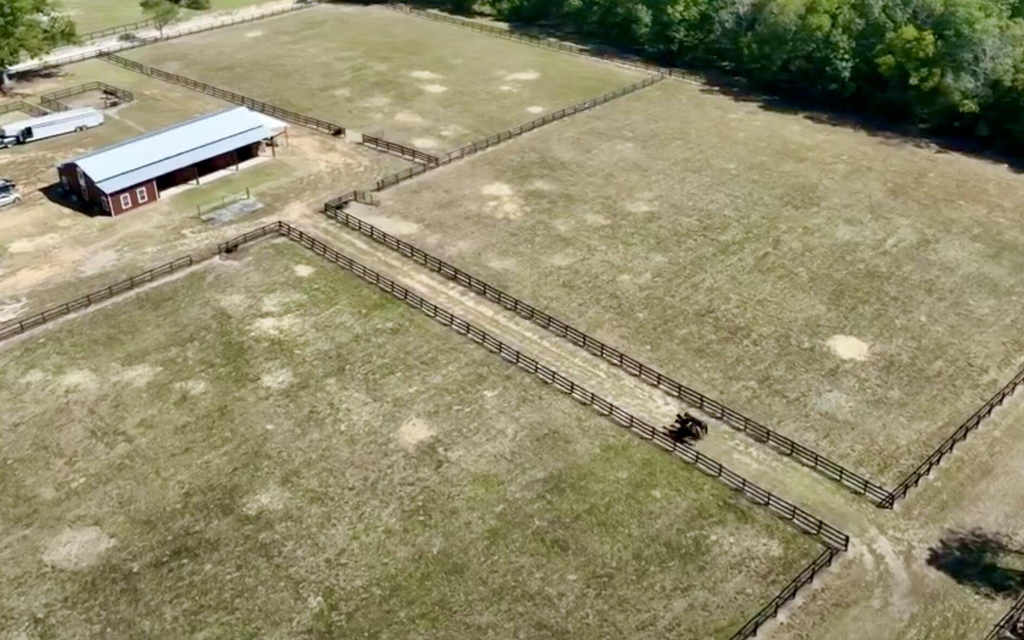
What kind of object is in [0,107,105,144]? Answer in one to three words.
trailer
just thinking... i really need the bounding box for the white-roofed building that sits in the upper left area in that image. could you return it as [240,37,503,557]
[51,110,290,217]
